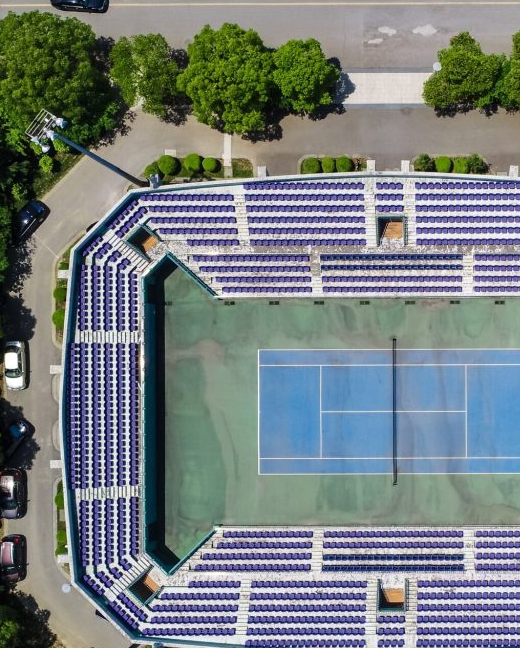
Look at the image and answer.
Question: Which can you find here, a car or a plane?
car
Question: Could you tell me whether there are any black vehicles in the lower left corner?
Yes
